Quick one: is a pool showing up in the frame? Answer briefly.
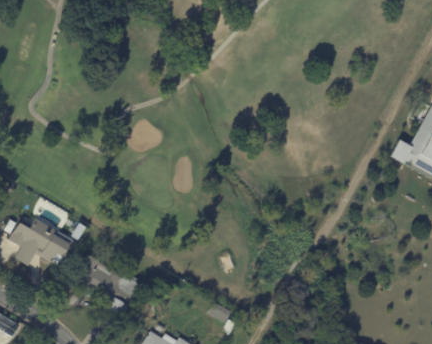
Yes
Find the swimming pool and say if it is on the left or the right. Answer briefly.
left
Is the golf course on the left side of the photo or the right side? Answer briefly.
left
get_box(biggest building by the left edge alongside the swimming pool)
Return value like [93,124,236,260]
[10,218,74,266]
